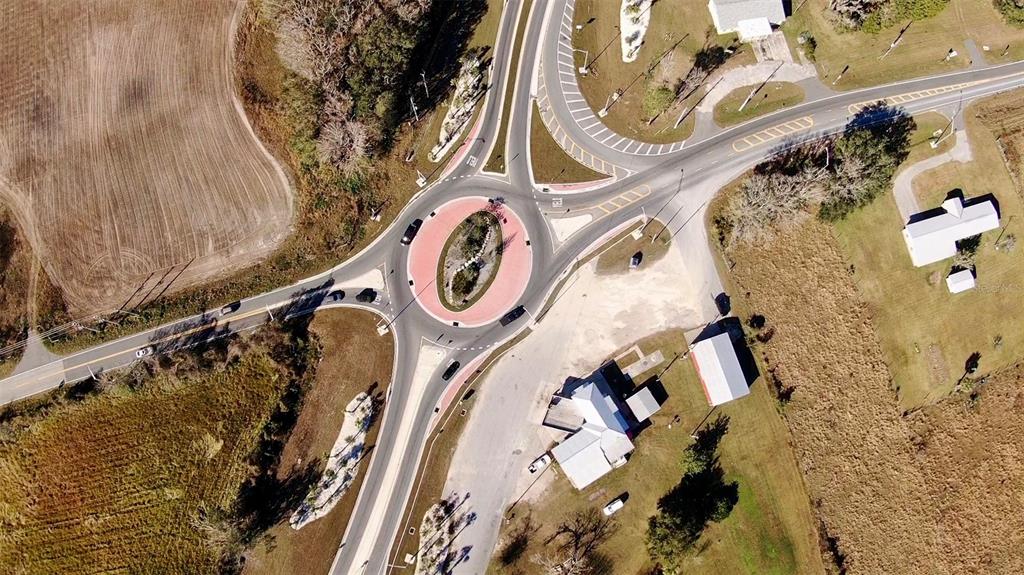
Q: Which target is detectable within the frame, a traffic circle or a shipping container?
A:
traffic circle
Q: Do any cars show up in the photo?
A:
Yes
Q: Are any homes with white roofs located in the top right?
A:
Yes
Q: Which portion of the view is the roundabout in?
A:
center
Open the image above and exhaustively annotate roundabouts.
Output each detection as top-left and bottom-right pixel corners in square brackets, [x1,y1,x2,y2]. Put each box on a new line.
[379,143,562,357]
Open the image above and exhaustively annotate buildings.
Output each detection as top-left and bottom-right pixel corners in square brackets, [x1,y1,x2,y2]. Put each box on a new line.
[704,0,785,48]
[688,332,750,406]
[625,387,660,421]
[551,377,635,490]
[903,197,1000,268]
[942,269,975,293]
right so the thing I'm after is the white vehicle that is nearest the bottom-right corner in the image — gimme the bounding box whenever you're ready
[601,497,624,515]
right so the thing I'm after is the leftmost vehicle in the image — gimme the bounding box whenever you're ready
[135,345,155,357]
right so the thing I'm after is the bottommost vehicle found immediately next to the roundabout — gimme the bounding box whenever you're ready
[442,360,460,380]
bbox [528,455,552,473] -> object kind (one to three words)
car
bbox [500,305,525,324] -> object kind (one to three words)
vehicle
